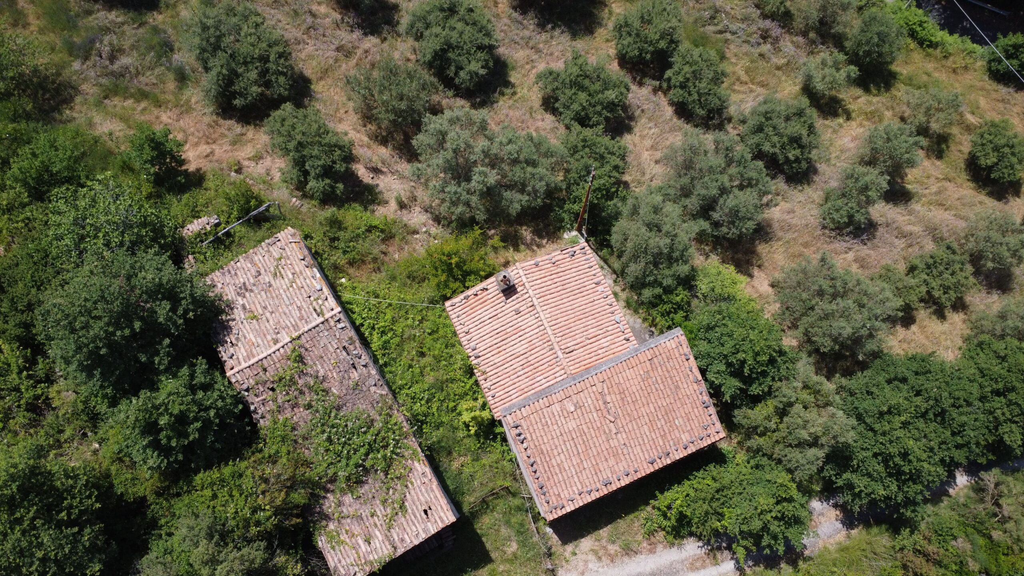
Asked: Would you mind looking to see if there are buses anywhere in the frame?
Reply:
No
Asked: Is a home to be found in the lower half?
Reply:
Yes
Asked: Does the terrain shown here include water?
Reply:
No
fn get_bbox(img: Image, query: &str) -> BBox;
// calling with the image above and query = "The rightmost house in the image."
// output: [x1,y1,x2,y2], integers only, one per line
[442,240,728,525]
